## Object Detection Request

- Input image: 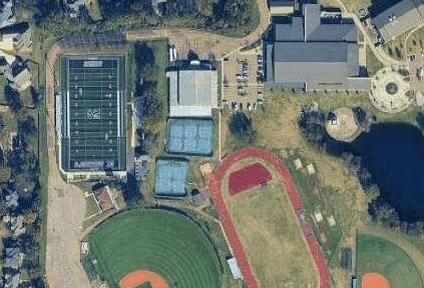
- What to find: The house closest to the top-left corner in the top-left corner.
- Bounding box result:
[0,0,21,25]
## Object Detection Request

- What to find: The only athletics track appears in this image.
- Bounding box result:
[208,147,328,288]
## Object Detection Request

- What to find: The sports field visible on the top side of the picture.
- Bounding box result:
[62,55,127,171]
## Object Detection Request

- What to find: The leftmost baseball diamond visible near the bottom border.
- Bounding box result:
[83,204,223,288]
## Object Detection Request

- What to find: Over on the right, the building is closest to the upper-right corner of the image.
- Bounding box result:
[373,0,424,41]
